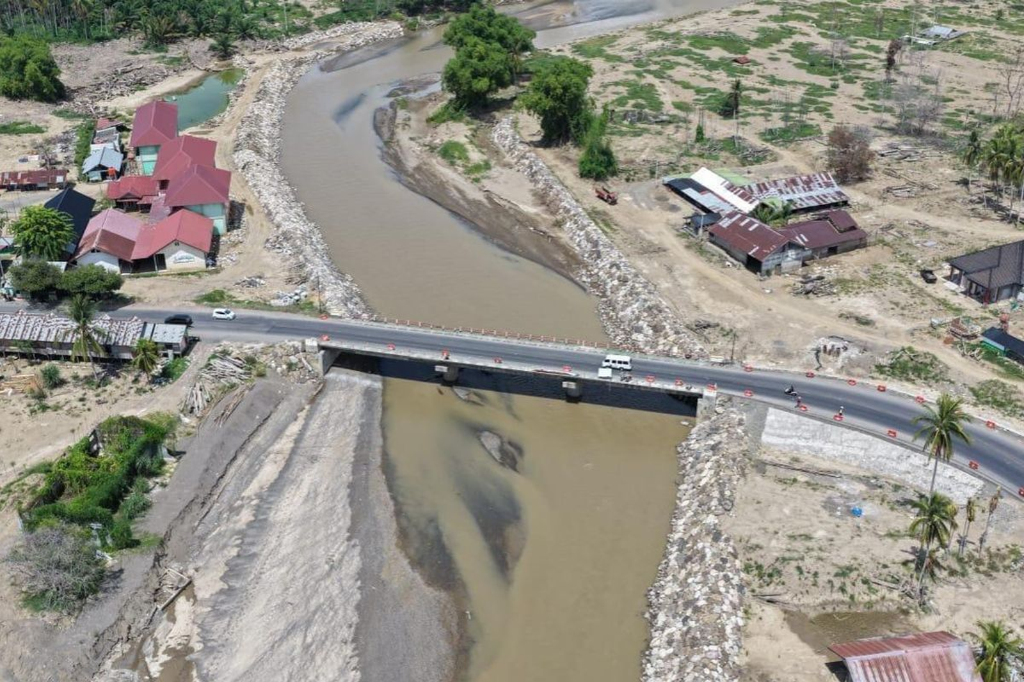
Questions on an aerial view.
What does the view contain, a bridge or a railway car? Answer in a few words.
bridge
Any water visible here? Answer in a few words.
Yes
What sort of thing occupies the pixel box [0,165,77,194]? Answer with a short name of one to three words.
shed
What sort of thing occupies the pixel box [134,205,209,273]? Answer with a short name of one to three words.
house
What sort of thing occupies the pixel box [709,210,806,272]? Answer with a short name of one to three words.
barn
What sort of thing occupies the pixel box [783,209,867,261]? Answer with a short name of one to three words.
shed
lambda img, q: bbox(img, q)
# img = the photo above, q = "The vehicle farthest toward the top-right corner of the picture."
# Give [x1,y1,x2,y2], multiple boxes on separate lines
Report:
[918,269,941,284]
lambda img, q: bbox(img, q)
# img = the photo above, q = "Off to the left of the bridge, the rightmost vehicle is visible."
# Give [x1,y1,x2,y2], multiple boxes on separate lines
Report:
[208,307,238,322]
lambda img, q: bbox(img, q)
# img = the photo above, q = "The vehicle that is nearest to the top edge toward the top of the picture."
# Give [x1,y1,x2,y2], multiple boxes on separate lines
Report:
[594,189,620,206]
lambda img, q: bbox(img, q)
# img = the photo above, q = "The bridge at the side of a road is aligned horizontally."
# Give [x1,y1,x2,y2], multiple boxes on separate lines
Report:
[296,313,724,415]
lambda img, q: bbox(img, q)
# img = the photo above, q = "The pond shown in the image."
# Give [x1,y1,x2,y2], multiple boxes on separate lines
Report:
[178,70,245,131]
